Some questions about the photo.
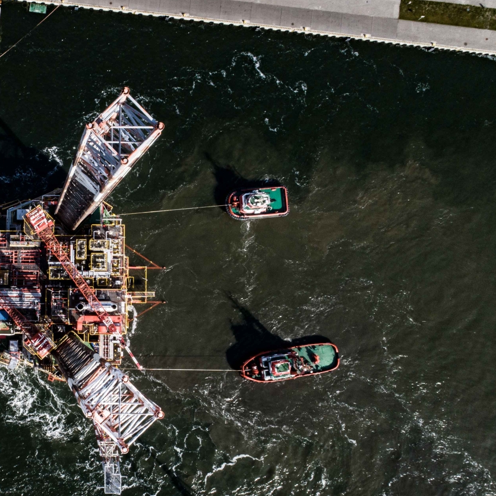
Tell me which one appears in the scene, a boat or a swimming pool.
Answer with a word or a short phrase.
boat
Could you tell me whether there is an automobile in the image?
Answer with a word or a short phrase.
No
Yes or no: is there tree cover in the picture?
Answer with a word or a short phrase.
No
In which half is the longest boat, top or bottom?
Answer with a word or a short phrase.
bottom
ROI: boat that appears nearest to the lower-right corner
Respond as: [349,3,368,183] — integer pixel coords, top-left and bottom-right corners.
[240,342,340,379]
